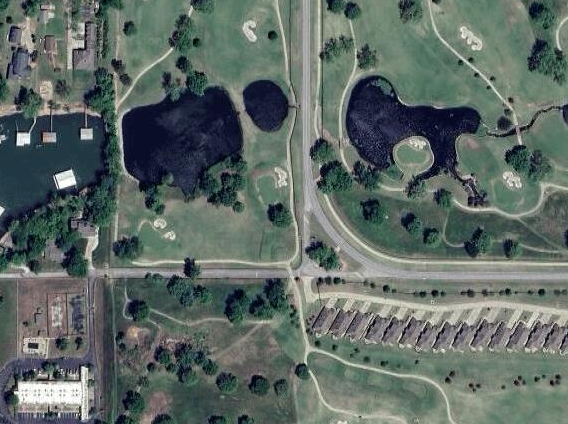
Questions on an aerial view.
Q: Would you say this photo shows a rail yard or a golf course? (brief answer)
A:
golf course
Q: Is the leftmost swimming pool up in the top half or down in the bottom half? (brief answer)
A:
bottom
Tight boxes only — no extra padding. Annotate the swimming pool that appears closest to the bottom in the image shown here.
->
[23,338,49,358]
